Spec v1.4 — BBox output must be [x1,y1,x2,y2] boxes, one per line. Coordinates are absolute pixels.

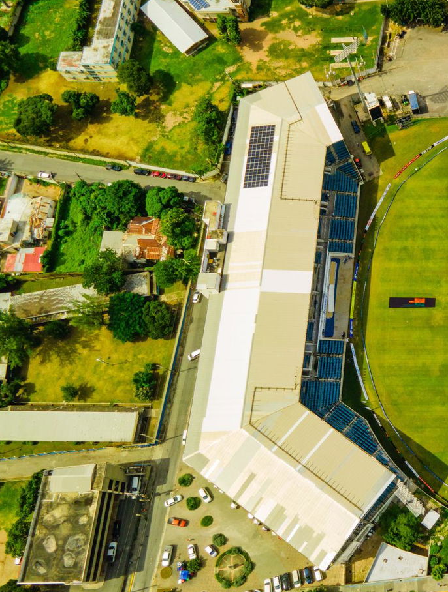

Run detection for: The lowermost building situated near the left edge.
[17,463,140,586]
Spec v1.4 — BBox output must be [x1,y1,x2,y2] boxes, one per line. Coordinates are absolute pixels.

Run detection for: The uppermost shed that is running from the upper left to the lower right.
[141,0,211,60]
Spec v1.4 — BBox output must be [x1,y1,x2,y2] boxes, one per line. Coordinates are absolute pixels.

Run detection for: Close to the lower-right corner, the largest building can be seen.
[365,542,429,582]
